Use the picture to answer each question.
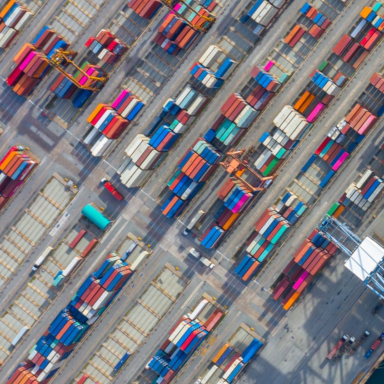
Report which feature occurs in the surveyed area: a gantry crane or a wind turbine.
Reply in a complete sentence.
Of the two, only a gantry crane appears.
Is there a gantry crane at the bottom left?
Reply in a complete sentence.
No, there's no gantry crane to be seen at the bottom left.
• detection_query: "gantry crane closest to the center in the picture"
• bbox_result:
[220,145,278,192]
